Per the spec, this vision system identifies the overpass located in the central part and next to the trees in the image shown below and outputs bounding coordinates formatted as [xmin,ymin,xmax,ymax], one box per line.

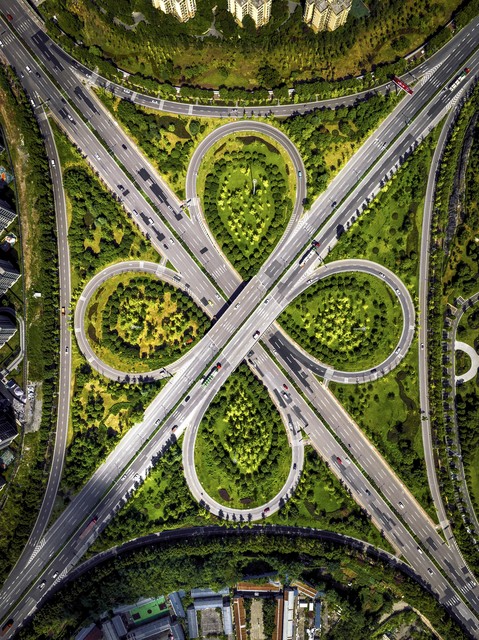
[198,279,287,375]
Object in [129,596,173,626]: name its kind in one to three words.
sports court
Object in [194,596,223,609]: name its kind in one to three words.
shed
